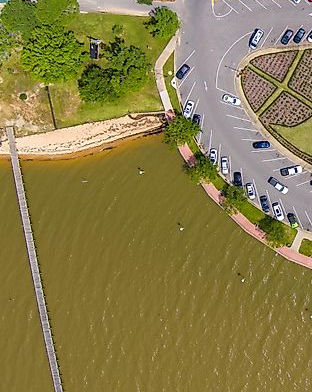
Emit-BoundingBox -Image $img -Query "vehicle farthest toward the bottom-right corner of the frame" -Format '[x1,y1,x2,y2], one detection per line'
[286,211,300,229]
